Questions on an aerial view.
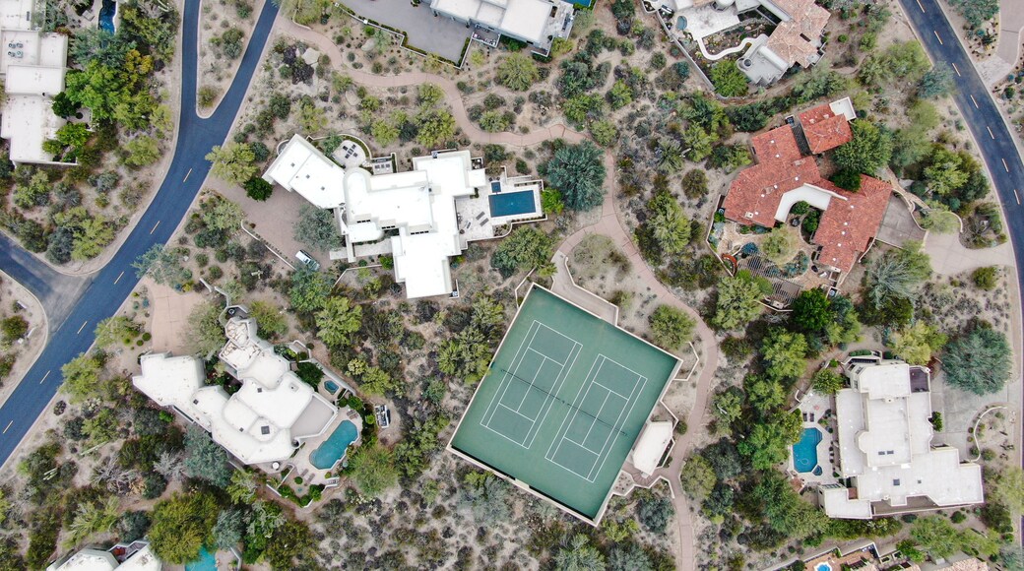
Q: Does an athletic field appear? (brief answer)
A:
Yes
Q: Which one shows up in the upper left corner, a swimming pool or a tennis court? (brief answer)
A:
swimming pool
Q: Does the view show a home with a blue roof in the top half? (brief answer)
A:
No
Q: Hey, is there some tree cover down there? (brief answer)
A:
Yes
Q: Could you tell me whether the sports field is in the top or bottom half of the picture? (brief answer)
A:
bottom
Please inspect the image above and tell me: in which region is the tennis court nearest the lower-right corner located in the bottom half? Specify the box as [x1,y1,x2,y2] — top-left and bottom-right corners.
[545,354,647,482]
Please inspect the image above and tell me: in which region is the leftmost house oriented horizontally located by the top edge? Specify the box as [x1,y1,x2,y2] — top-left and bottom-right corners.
[431,0,552,52]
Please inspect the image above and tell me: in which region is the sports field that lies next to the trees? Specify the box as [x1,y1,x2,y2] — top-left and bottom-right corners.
[451,285,677,518]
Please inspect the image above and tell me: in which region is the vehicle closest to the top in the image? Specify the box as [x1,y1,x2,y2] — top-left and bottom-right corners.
[296,250,321,269]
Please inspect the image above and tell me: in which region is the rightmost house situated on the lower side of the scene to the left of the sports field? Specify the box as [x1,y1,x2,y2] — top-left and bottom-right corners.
[134,314,343,464]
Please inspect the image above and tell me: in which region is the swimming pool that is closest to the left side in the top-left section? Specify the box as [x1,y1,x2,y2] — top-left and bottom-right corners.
[97,0,119,44]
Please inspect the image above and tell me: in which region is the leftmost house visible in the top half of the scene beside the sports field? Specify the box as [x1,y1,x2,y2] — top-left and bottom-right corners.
[263,134,487,298]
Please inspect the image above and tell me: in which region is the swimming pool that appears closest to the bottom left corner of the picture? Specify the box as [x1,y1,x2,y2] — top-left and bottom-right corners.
[184,538,221,571]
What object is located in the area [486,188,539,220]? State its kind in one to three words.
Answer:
swimming pool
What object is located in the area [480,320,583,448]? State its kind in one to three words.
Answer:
tennis court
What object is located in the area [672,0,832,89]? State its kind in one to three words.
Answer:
house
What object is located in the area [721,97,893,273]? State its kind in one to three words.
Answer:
house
